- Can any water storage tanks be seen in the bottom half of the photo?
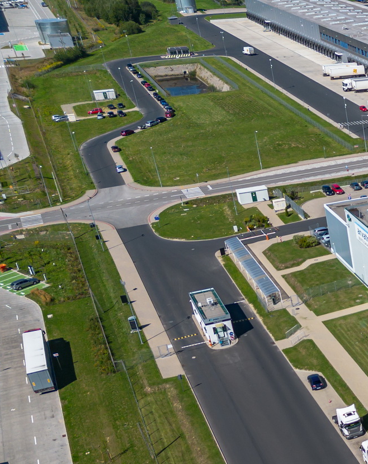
No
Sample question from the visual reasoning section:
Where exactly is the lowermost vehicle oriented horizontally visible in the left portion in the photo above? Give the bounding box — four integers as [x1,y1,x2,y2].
[7,277,41,292]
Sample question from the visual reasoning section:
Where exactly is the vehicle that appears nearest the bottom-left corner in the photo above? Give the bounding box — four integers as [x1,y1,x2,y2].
[21,325,57,398]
